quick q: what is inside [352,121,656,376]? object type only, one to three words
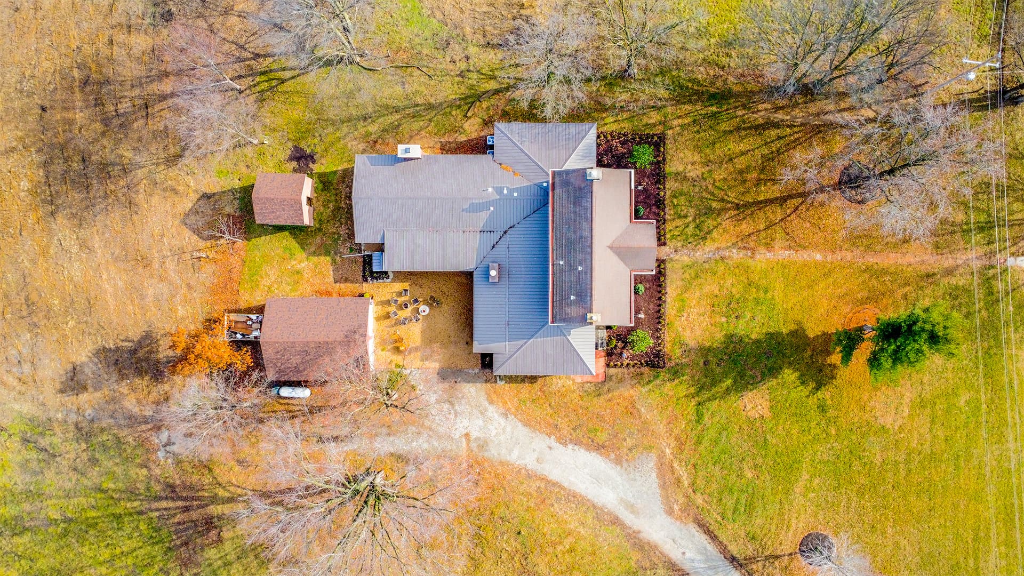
house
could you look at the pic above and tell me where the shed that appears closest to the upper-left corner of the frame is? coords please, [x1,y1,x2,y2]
[252,175,312,225]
